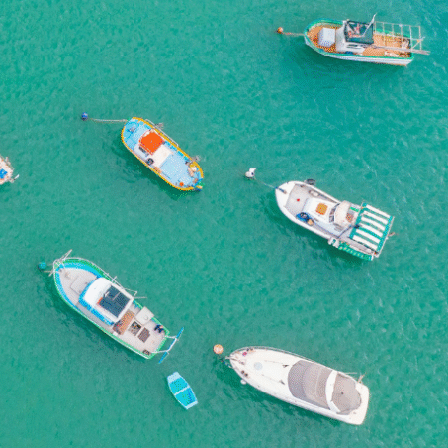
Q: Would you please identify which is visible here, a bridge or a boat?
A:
boat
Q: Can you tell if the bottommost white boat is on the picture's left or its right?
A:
right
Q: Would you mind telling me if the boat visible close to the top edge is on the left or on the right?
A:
right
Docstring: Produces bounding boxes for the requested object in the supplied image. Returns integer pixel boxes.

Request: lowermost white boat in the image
[229,344,368,425]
